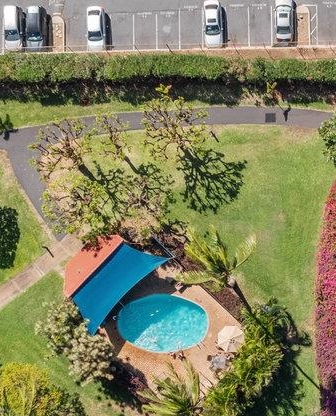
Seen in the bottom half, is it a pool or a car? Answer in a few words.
pool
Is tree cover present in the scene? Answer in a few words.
Yes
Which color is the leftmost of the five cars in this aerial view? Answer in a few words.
white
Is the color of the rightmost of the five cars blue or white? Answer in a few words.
white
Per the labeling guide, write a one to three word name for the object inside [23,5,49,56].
car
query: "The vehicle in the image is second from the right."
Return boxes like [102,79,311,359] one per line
[202,0,225,50]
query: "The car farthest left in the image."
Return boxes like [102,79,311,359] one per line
[1,3,27,57]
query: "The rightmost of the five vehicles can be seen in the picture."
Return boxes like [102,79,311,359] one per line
[273,0,296,44]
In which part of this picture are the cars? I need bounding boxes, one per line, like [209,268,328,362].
[85,4,108,55]
[1,3,27,57]
[202,0,225,50]
[273,0,296,44]
[23,5,49,56]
